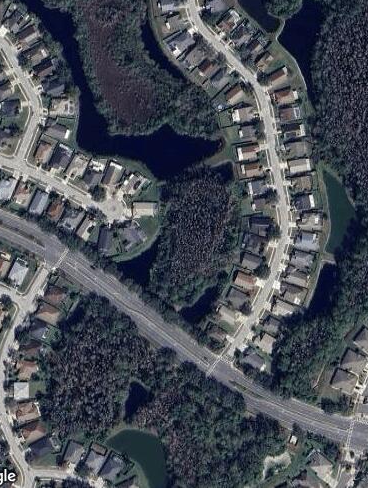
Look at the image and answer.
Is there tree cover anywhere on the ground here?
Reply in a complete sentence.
Yes, tree cover can be seen from above here.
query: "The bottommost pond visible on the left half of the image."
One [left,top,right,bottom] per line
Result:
[112,429,168,488]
